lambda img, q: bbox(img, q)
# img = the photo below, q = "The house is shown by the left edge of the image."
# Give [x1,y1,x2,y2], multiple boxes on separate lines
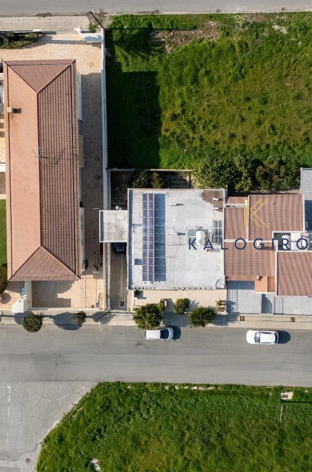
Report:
[2,59,92,281]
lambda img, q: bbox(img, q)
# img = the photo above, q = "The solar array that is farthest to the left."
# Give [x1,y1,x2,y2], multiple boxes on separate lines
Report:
[142,193,154,282]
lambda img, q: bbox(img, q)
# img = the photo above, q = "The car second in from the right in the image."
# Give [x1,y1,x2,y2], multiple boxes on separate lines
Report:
[143,326,174,342]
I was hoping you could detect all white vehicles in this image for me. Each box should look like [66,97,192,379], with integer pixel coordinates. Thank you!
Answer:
[246,329,278,346]
[143,326,174,342]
